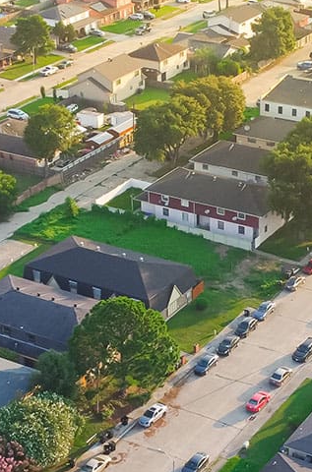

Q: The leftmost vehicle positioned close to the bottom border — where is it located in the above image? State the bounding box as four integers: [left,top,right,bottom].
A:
[80,452,114,472]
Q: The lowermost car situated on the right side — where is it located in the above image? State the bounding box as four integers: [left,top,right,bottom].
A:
[178,446,209,472]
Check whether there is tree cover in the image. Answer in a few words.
Yes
